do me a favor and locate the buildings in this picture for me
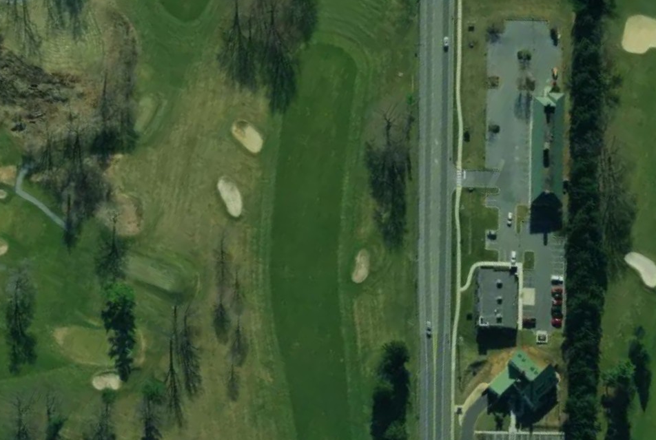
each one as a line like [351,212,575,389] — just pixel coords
[531,82,564,203]
[489,349,564,412]
[478,270,518,328]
